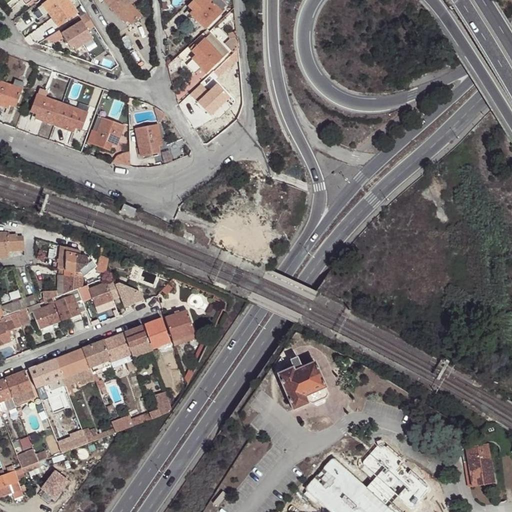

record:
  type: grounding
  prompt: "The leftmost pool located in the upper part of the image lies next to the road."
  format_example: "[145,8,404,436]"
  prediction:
[68,81,83,100]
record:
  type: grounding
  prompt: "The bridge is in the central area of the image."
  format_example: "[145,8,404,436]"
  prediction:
[238,258,327,330]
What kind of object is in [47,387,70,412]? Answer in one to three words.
house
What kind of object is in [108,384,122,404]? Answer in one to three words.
swimming pool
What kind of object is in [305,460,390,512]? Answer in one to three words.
building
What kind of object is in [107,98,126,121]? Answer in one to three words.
swimming pool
